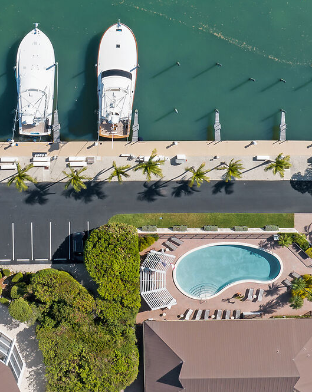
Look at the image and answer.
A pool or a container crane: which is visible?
pool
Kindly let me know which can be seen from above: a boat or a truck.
boat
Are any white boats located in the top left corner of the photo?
Yes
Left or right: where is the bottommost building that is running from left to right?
right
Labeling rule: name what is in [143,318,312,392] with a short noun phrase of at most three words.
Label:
building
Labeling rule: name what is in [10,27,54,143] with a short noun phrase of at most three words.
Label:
boat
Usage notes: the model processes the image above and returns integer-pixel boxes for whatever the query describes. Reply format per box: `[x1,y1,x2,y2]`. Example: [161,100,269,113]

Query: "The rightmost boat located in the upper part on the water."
[91,18,137,143]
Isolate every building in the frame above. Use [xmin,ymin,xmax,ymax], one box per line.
[143,318,312,392]
[0,330,31,392]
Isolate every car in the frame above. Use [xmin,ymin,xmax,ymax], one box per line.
[71,230,86,261]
